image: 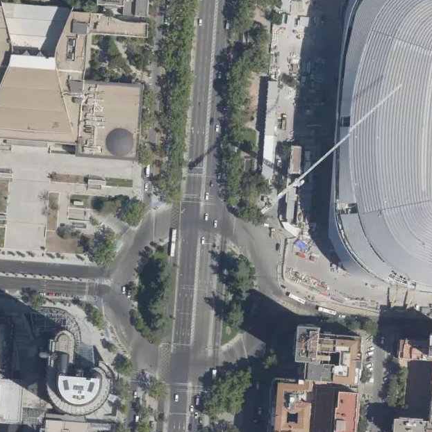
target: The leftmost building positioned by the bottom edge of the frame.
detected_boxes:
[47,333,110,417]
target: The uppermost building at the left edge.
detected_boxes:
[0,3,148,161]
